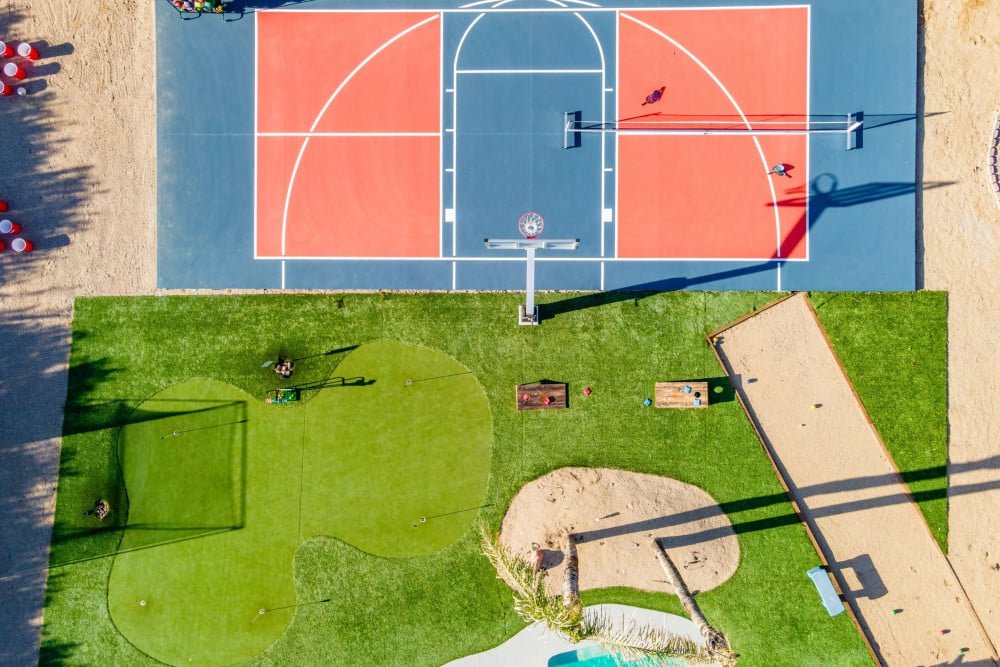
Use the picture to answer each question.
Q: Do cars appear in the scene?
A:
No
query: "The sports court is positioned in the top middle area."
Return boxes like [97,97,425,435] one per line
[155,0,918,291]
